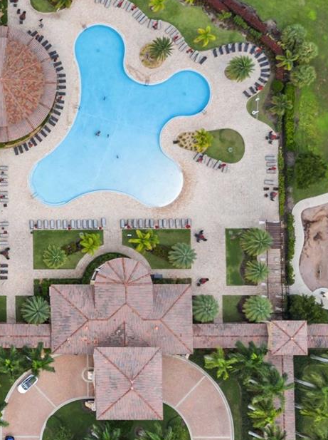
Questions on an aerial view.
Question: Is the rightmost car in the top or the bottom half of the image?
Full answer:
The rightmost car sits in the bottom half of the picture.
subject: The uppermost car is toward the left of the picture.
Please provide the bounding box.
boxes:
[18,372,38,394]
